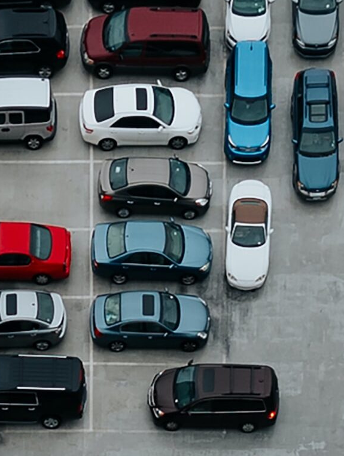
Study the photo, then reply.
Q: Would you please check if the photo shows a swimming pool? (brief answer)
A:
No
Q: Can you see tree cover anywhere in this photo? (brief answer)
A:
No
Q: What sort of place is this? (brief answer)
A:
parking lot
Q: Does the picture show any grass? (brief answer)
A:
No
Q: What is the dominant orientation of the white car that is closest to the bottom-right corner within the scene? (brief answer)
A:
from top to bottom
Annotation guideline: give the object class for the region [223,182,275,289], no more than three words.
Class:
car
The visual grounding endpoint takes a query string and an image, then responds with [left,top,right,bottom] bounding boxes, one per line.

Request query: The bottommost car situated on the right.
[148,360,280,432]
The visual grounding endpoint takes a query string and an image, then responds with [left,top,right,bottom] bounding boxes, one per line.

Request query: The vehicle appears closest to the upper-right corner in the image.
[291,0,344,58]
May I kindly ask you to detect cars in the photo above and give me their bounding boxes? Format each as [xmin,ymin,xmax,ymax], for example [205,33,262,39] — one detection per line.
[92,216,213,285]
[0,222,72,283]
[80,78,202,150]
[291,0,344,58]
[0,353,87,429]
[91,285,211,352]
[148,360,280,432]
[222,0,276,47]
[0,289,66,351]
[0,74,57,149]
[99,152,213,218]
[81,0,211,80]
[223,43,277,165]
[0,4,69,77]
[291,71,344,199]
[223,182,275,289]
